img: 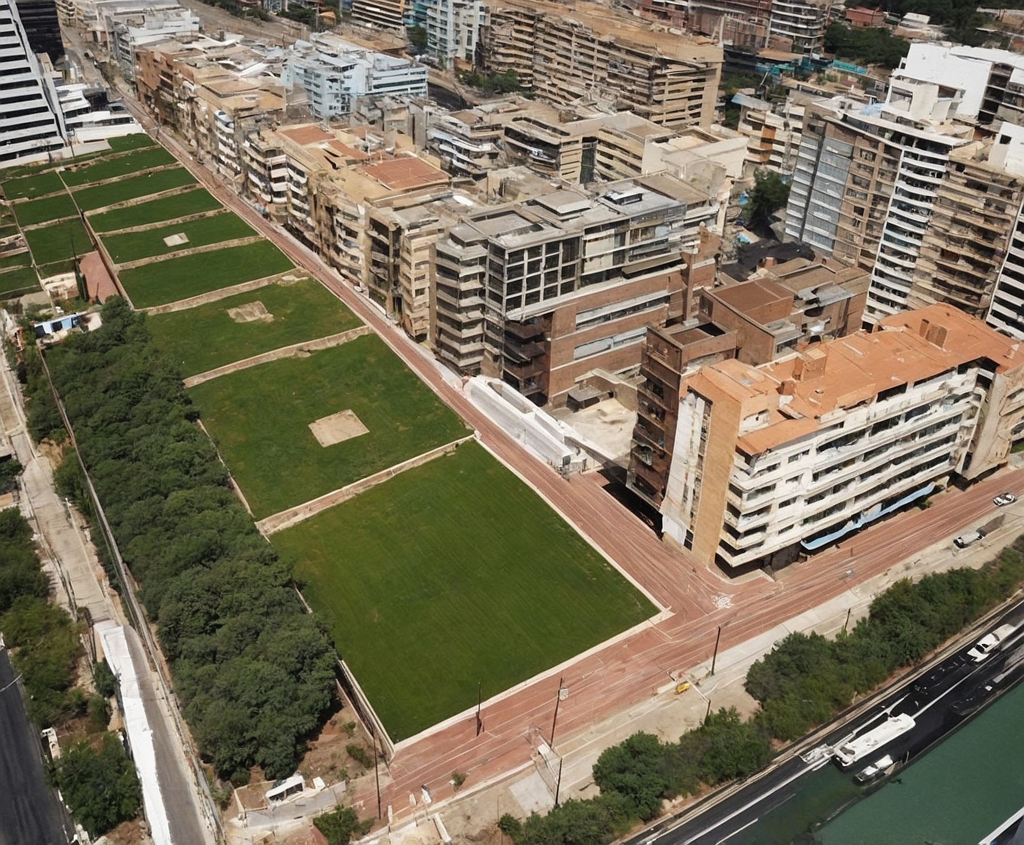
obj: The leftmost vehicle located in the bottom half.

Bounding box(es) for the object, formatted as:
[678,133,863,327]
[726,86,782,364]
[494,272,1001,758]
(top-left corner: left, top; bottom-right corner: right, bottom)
[676,683,691,699]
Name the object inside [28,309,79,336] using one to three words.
shed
